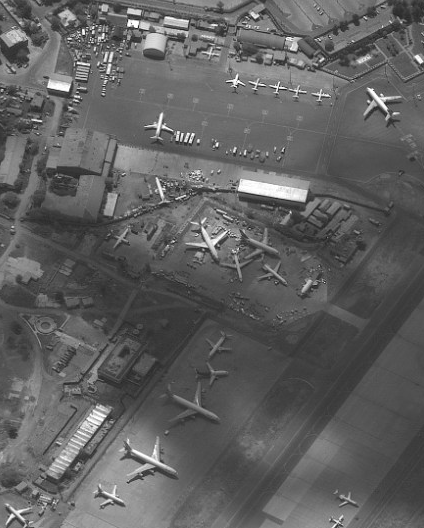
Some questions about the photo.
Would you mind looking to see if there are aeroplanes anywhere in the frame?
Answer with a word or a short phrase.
Yes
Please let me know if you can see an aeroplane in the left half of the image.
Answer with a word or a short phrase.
Yes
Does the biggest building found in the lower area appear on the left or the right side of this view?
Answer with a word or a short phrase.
left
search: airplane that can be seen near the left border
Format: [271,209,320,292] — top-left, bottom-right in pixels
[6,503,33,528]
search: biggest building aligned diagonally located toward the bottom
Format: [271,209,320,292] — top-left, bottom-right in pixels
[48,405,113,483]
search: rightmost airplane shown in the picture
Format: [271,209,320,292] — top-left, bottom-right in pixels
[367,88,401,124]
